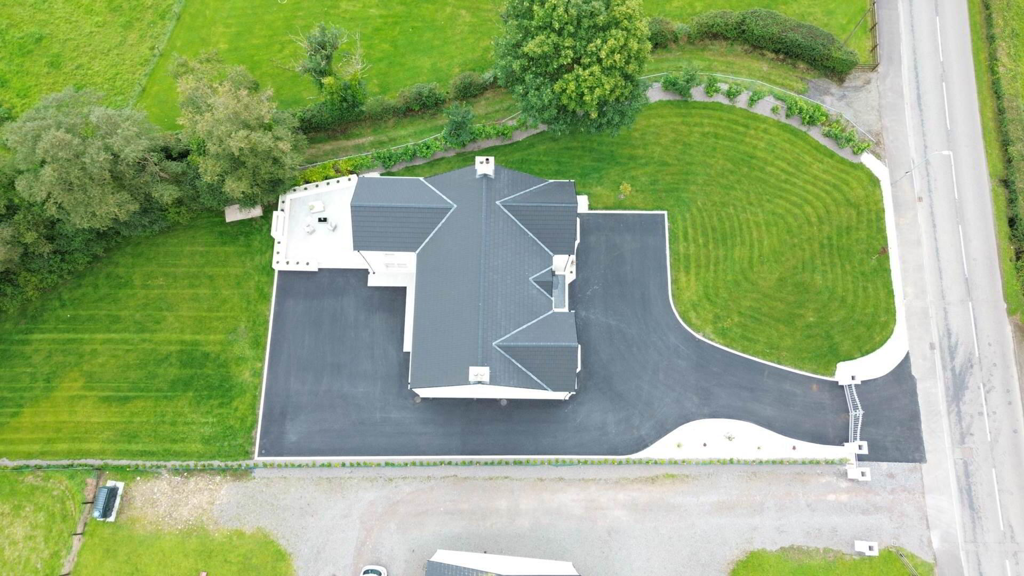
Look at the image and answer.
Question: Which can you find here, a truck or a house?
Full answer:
The one in the frame is a house.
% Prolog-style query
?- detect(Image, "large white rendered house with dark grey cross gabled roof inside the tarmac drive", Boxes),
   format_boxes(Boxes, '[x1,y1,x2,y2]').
[350,156,582,398]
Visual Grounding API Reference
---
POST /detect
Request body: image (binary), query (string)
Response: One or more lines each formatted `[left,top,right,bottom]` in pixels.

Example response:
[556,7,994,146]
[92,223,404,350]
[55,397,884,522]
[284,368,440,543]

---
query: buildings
[423,551,582,576]
[350,156,582,398]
